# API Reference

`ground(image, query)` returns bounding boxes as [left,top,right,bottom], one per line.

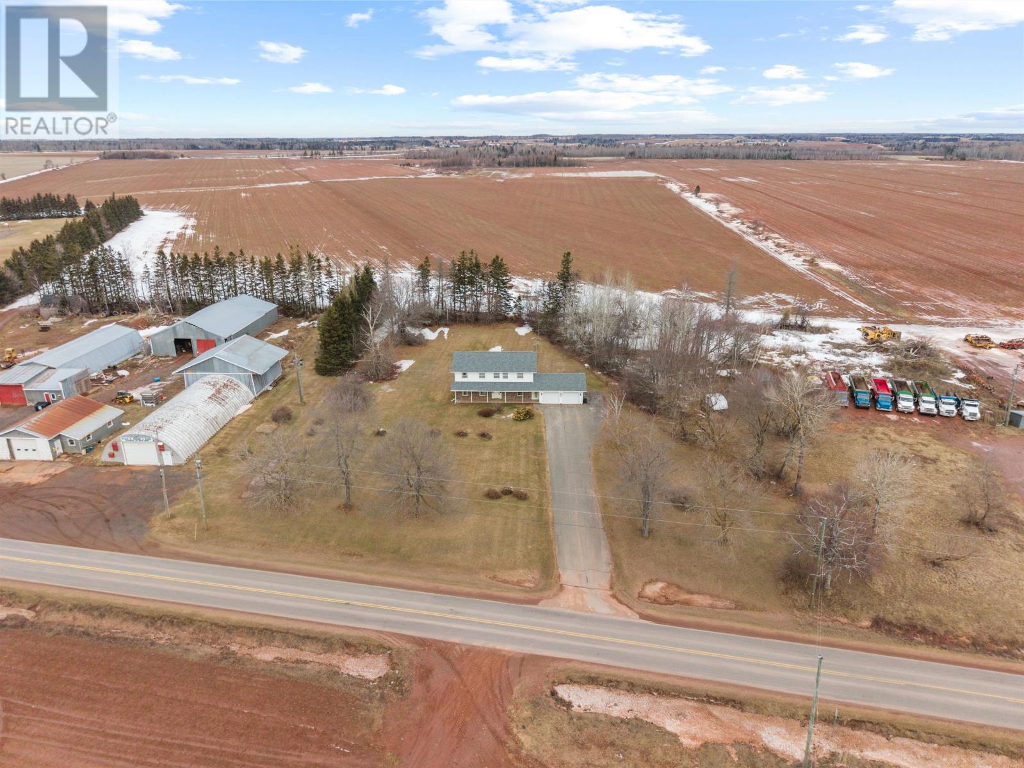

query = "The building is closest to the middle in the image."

[450,347,586,406]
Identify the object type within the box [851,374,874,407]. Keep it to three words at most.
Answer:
truck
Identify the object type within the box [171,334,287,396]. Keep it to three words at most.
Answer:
shed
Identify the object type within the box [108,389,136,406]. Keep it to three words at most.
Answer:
work vehicle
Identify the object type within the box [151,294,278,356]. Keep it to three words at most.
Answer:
barn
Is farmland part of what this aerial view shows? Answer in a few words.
Yes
